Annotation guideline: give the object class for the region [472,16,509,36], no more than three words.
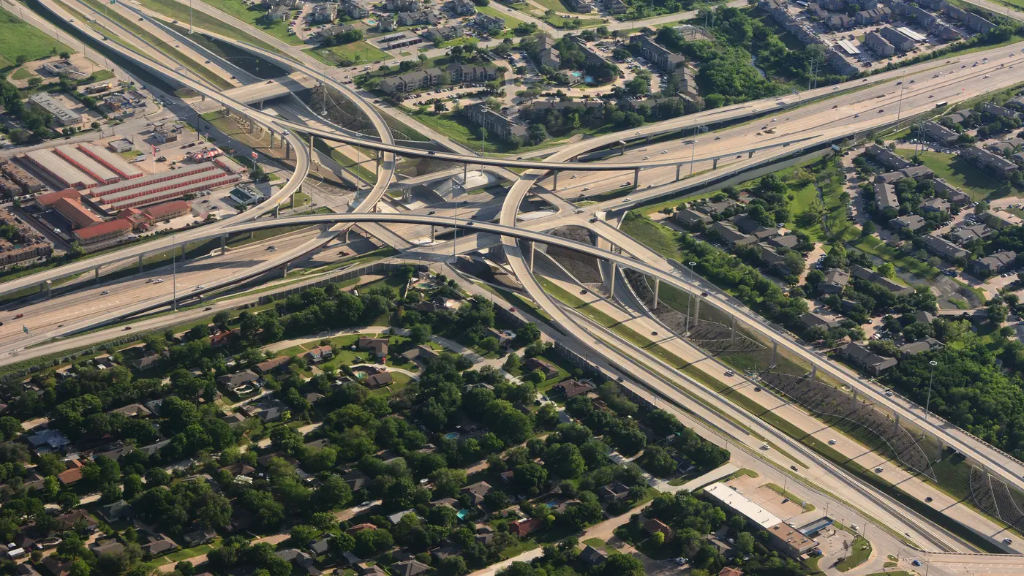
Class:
building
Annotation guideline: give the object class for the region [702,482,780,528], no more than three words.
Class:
building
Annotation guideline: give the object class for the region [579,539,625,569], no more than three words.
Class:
house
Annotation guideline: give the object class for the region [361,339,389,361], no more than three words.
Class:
house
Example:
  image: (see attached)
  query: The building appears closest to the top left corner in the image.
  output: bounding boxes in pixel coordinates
[43,59,75,80]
